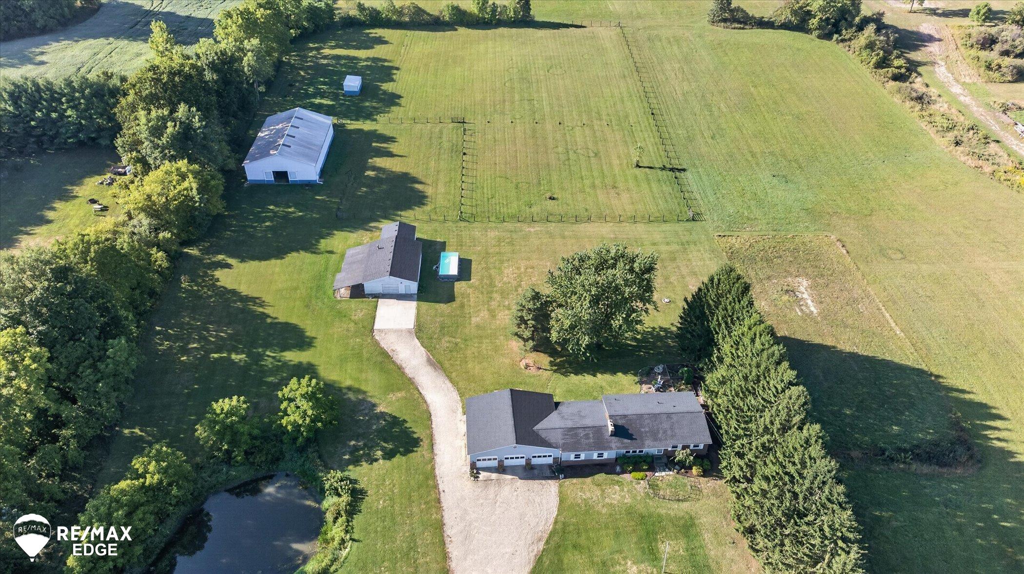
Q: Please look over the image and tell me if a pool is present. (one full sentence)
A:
Yes, there is a pool in the image.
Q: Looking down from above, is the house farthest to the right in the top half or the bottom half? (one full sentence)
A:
The bottom half of the photo is where the house farthest to the right is.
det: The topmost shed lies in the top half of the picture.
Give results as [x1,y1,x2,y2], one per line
[343,75,362,96]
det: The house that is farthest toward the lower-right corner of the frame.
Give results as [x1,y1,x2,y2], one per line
[465,388,714,469]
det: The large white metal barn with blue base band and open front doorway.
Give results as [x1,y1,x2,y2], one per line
[242,107,333,185]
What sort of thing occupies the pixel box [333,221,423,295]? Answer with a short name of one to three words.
building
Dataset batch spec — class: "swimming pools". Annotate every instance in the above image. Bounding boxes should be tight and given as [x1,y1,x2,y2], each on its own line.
[437,252,462,282]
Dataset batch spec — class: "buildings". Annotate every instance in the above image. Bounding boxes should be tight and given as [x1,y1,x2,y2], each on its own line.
[333,221,423,295]
[343,75,362,96]
[465,388,714,469]
[242,107,333,185]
